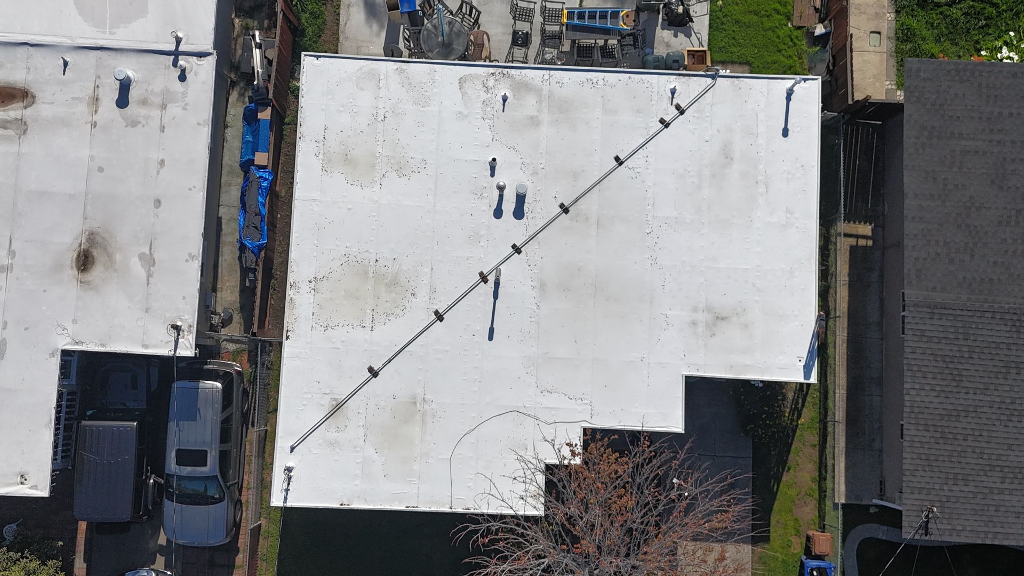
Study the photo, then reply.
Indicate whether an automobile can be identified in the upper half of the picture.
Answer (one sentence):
No, no automobile is visible in the upper half of the picture.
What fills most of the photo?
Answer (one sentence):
The largest share of the image is taken up by buildings.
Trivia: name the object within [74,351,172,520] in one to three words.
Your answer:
van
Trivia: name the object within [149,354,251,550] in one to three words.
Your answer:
car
